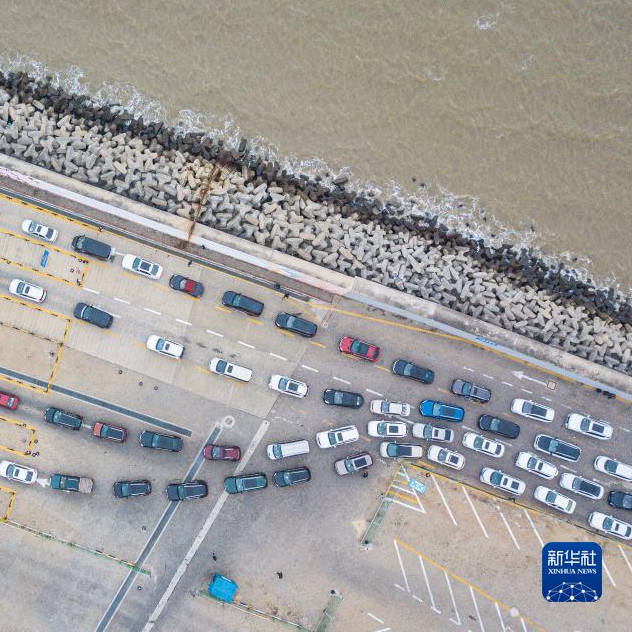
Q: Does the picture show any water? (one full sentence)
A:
Yes, water can be seen from above here.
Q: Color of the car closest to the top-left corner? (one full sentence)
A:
The car closest to the top-left corner is white.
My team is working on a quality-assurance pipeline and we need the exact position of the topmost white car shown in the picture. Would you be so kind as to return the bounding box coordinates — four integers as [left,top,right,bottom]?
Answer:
[22,220,59,243]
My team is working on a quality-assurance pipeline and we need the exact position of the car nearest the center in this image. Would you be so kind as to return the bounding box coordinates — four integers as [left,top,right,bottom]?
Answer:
[275,313,317,337]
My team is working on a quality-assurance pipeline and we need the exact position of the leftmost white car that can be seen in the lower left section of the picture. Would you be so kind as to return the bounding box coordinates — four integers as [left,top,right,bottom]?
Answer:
[0,460,38,483]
